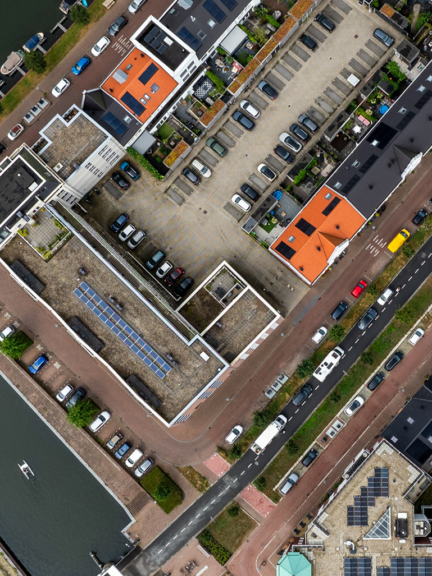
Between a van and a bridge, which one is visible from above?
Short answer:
van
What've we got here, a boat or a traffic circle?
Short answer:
boat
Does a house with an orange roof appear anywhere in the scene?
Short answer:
Yes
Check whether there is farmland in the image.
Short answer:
No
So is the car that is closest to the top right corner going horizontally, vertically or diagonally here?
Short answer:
diagonally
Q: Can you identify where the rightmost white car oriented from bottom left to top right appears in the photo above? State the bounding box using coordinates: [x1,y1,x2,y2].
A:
[406,325,426,349]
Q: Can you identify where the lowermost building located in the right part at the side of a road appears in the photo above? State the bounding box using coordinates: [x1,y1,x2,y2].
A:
[278,437,432,576]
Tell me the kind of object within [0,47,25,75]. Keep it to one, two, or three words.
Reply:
boat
